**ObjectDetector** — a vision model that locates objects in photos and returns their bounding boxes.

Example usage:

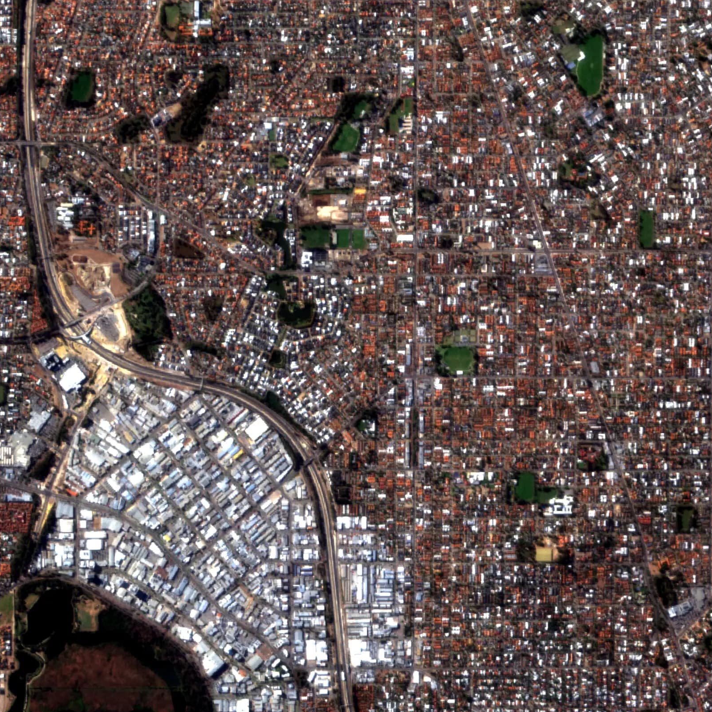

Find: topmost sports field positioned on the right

[576,33,603,96]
